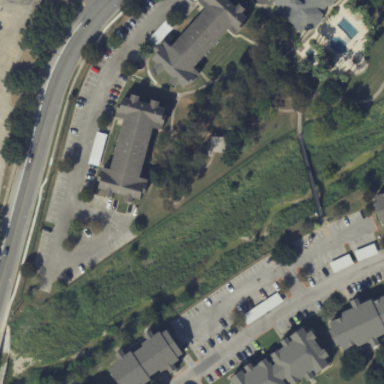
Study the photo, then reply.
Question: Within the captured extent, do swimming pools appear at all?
Yes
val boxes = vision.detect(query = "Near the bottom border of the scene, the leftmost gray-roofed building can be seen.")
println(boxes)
[112,330,186,384]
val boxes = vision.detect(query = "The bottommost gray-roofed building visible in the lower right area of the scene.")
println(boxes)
[230,326,334,384]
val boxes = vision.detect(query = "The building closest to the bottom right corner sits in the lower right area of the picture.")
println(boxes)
[330,298,384,354]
